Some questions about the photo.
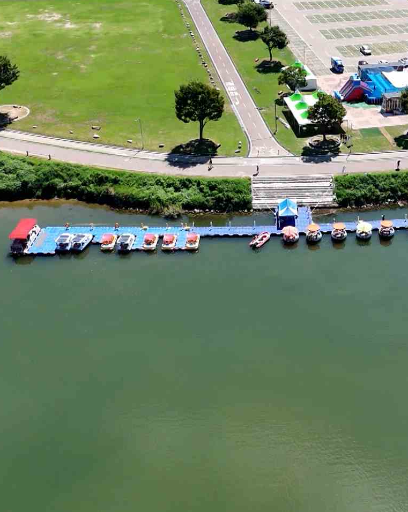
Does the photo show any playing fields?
No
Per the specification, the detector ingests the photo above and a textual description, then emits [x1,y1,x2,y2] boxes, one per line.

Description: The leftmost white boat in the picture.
[22,228,44,251]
